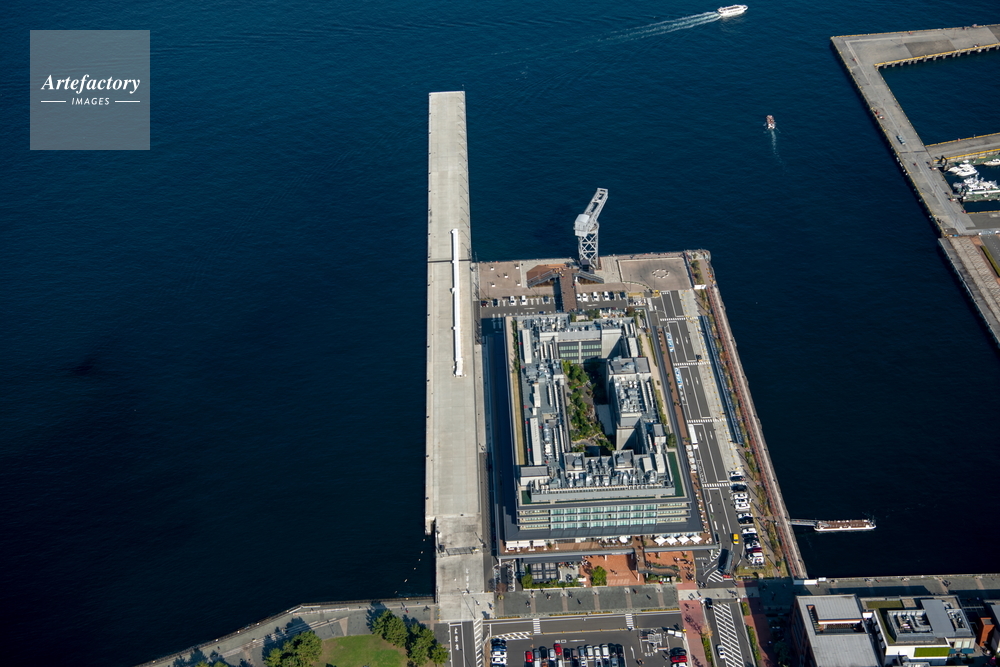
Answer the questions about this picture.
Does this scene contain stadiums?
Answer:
No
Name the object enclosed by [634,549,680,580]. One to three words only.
bridge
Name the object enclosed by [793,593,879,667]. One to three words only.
building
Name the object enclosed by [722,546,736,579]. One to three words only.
vehicle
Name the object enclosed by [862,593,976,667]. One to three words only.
building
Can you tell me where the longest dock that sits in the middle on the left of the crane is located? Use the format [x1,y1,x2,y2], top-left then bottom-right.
[422,91,481,540]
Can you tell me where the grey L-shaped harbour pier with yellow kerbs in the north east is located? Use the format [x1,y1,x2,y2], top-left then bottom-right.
[831,24,1000,237]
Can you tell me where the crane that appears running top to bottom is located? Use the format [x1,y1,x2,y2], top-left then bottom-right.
[573,186,609,271]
